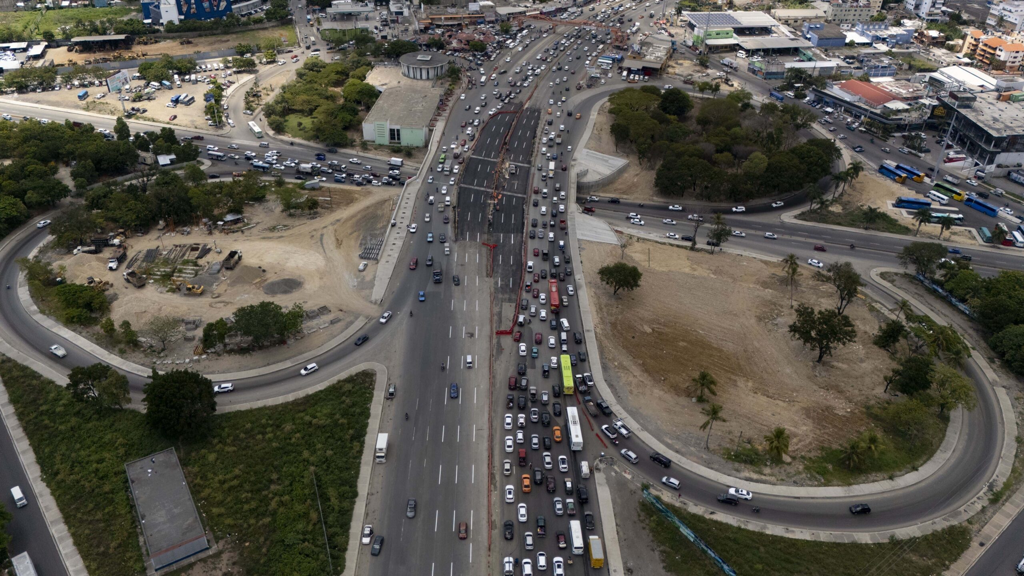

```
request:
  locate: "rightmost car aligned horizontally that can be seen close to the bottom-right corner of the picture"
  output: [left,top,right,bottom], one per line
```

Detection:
[846,503,874,516]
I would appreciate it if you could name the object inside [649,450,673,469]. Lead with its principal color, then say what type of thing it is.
black car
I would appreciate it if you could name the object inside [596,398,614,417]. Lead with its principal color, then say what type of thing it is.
black vehicle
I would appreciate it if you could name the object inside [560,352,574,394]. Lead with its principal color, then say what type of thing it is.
green vehicle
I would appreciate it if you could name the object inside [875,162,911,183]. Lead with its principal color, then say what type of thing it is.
blue bus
